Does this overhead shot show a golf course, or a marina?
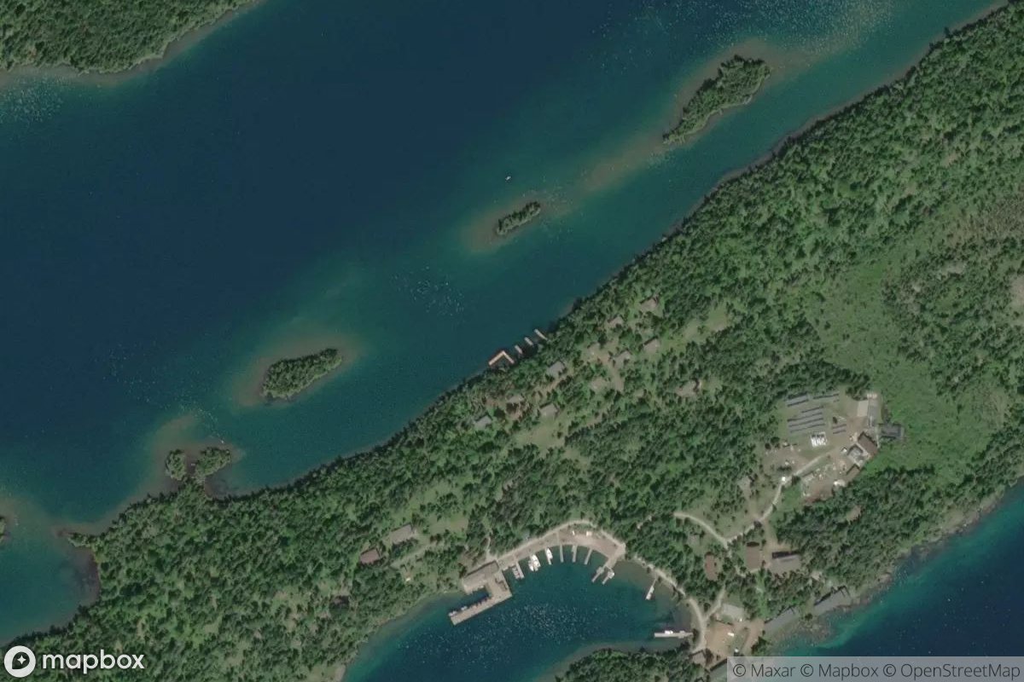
marina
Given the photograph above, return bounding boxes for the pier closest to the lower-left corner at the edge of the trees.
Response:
[450,567,512,625]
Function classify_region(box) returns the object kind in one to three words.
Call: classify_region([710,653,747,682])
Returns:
building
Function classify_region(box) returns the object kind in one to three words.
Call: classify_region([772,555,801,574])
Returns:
building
